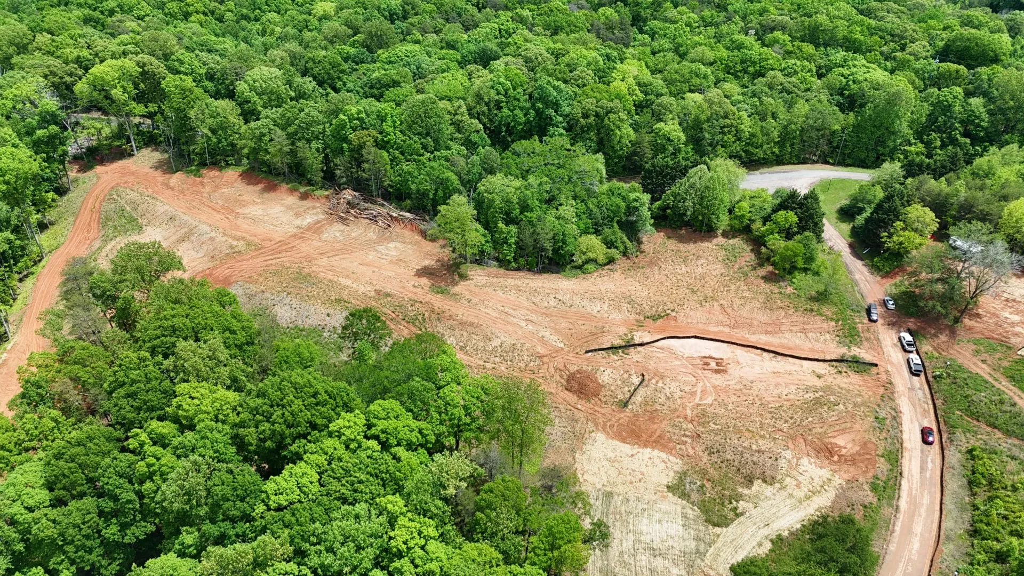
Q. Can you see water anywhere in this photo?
No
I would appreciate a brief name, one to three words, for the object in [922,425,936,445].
car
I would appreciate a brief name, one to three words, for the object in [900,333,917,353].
vehicle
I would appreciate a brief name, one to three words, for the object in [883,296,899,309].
vehicle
